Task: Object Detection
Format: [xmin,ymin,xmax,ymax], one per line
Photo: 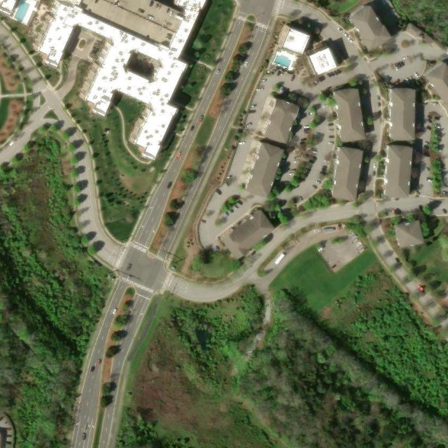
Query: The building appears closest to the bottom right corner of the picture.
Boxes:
[393,219,424,248]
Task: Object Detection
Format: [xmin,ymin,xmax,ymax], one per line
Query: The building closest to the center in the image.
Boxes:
[220,210,274,260]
